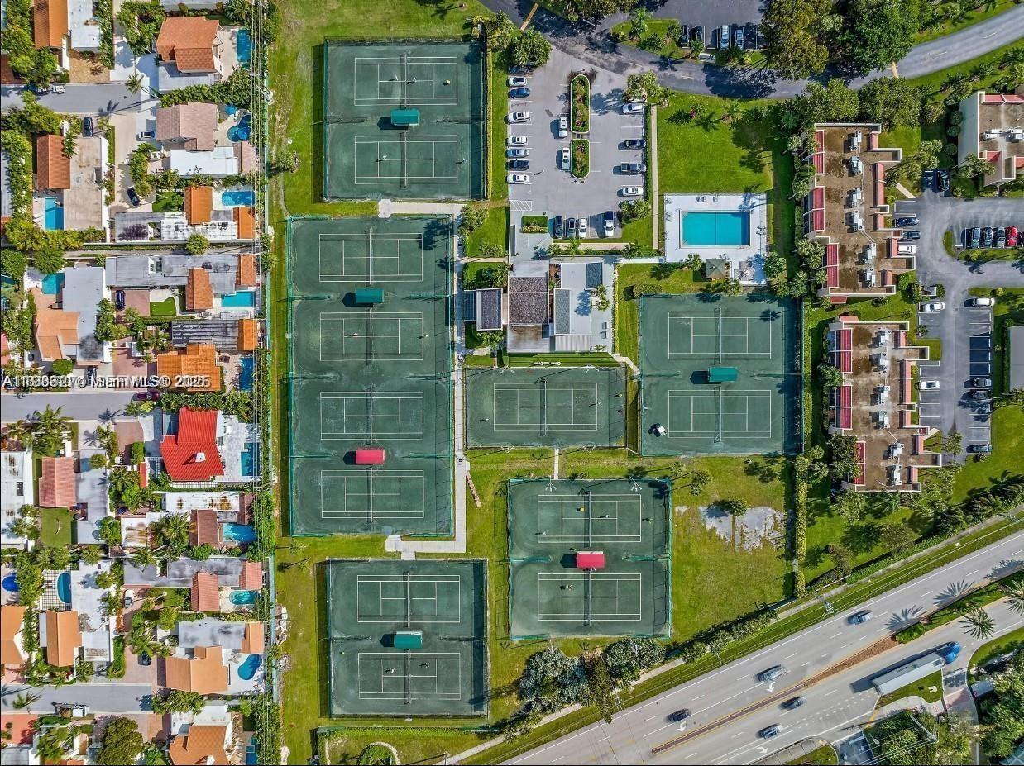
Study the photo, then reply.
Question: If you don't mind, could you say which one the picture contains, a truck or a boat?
truck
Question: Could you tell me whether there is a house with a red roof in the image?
Yes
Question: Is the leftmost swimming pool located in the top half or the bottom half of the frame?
bottom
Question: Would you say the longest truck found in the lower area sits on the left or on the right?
right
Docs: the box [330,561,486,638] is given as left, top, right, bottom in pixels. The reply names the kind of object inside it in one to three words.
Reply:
tennis court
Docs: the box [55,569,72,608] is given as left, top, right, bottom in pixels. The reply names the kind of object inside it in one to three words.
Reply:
swimming pool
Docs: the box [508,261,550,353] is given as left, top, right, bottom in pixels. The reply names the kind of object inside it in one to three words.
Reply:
building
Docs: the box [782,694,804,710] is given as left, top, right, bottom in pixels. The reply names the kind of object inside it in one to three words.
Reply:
car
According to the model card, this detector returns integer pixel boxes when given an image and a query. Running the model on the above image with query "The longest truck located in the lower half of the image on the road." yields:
[870,643,960,696]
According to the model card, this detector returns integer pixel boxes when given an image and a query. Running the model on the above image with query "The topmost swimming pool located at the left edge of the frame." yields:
[43,195,65,231]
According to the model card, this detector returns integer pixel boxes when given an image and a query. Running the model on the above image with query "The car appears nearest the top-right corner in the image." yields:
[936,172,948,193]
